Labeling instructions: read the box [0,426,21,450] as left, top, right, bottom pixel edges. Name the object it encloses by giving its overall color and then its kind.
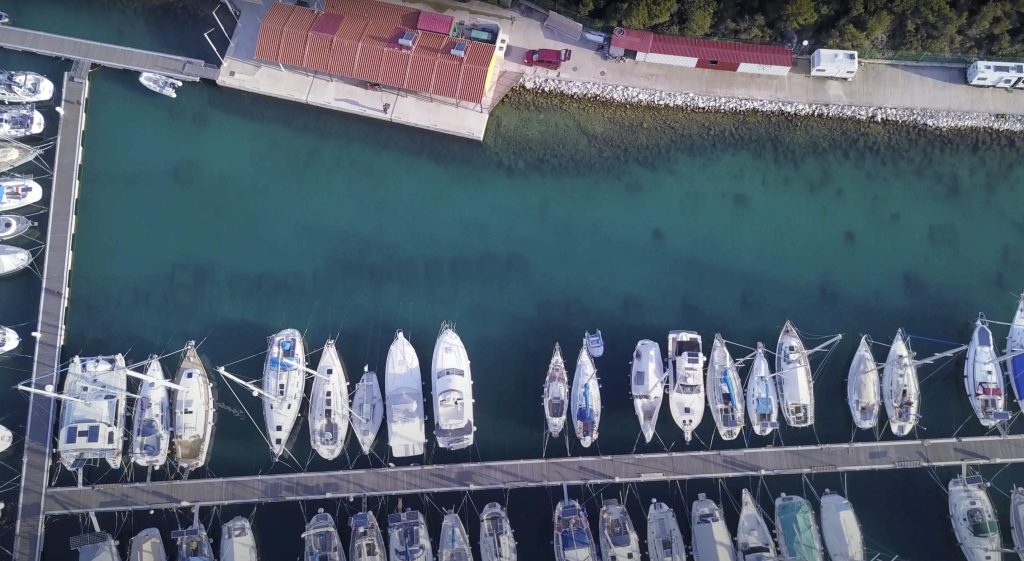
white boat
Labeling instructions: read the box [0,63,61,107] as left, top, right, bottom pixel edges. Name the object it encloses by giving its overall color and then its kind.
white boat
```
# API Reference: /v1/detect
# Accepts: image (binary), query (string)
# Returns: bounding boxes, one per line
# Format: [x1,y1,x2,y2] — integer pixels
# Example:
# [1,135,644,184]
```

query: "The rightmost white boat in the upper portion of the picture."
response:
[138,71,186,101]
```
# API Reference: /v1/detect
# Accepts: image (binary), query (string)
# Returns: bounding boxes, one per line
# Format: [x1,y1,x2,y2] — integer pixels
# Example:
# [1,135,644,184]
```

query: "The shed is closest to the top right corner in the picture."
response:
[608,27,793,77]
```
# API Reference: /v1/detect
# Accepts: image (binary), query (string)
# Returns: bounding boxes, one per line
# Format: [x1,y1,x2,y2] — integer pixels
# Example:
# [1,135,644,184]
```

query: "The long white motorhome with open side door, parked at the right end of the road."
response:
[963,58,1024,96]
